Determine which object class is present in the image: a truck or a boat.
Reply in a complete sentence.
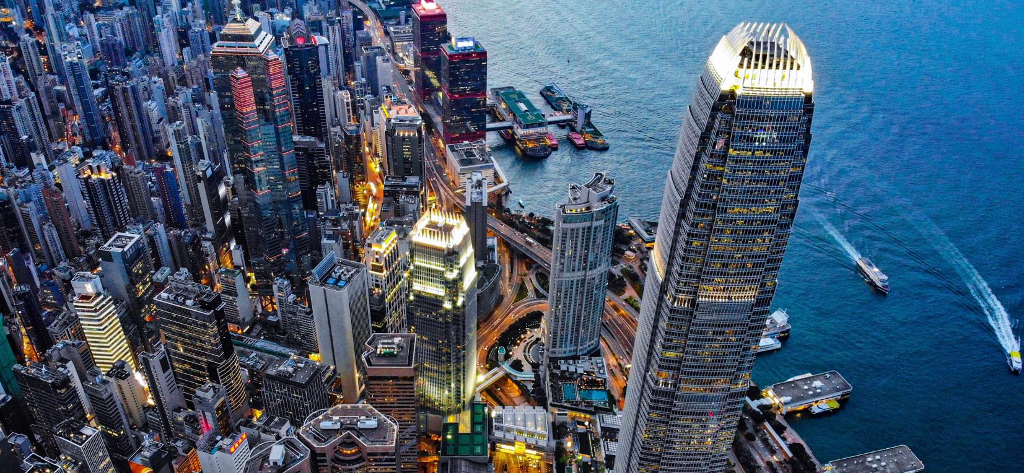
Looking from above, you can make out a boat.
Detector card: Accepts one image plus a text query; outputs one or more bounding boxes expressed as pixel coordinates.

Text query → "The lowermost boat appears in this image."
[807,397,841,414]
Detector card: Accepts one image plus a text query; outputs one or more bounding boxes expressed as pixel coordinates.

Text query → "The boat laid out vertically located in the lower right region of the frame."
[1006,347,1022,374]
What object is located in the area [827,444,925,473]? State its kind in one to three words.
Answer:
pier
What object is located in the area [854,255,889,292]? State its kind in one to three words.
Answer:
vessel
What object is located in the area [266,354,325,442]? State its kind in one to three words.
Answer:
building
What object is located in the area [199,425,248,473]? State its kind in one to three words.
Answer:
building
